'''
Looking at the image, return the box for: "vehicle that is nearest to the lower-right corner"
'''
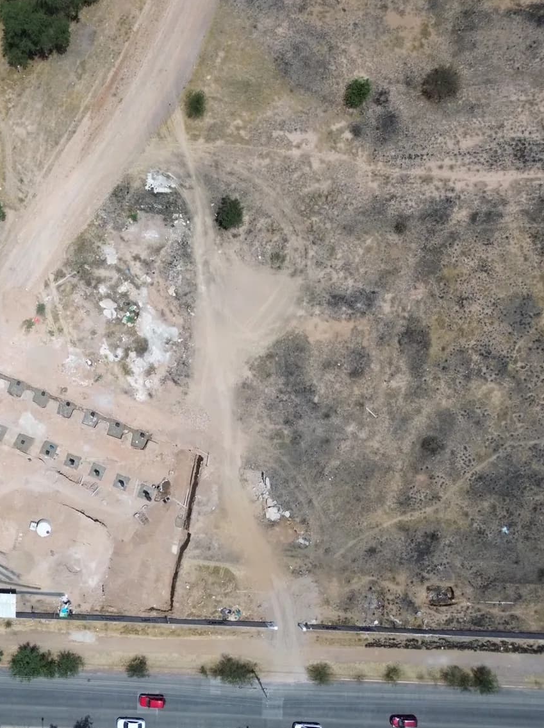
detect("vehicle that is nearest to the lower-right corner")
[391,713,419,728]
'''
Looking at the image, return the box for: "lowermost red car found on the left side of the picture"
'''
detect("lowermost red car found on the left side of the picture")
[139,694,166,709]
